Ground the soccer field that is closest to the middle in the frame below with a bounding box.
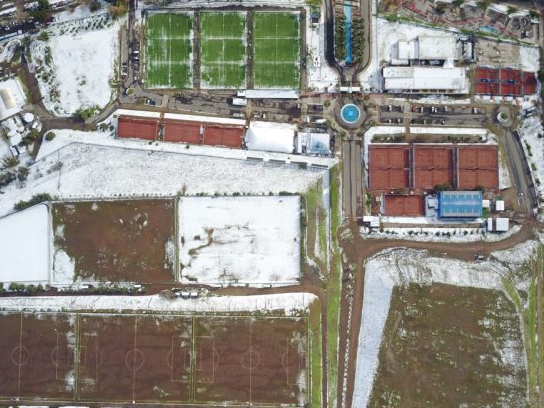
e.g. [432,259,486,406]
[179,196,300,285]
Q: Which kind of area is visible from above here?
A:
sports ground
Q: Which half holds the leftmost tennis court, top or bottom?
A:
top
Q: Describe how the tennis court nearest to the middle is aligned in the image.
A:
from left to right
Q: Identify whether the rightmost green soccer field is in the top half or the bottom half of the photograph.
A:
top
